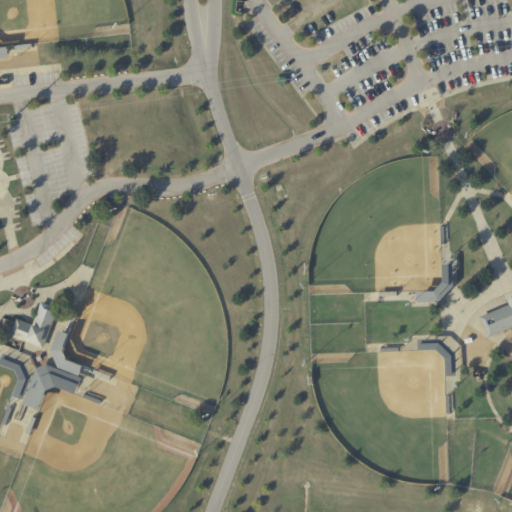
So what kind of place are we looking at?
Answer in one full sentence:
It's a sports ground.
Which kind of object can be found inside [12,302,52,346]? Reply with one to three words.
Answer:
building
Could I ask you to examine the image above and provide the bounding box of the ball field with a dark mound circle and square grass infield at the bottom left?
[0,389,200,512]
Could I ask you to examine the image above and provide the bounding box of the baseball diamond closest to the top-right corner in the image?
[466,110,512,202]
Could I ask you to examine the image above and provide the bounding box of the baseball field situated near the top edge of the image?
[0,0,130,46]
